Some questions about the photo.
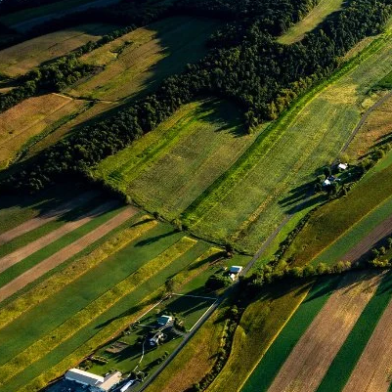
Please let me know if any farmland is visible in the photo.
Yes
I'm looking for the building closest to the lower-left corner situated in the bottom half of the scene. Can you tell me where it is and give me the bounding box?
[63,369,107,391]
